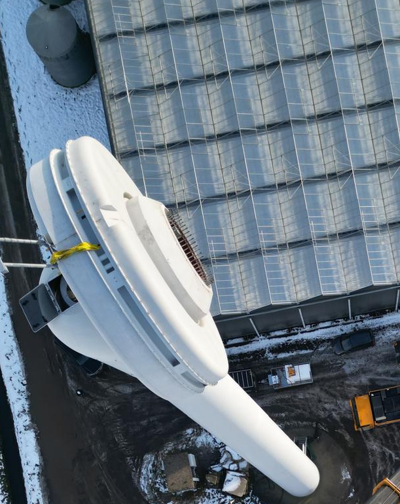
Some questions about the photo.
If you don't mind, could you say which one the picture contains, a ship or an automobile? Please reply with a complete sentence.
Visible in the photo is an automobile.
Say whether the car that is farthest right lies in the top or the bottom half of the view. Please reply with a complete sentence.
It is in the bottom half that the car that is farthest right appears.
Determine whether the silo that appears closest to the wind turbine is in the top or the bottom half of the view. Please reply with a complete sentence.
It is in the top half that the silo that appears closest to the wind turbine appears.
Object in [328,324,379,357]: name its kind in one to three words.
car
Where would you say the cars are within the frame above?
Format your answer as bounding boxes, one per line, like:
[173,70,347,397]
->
[328,324,379,357]
[49,337,101,379]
